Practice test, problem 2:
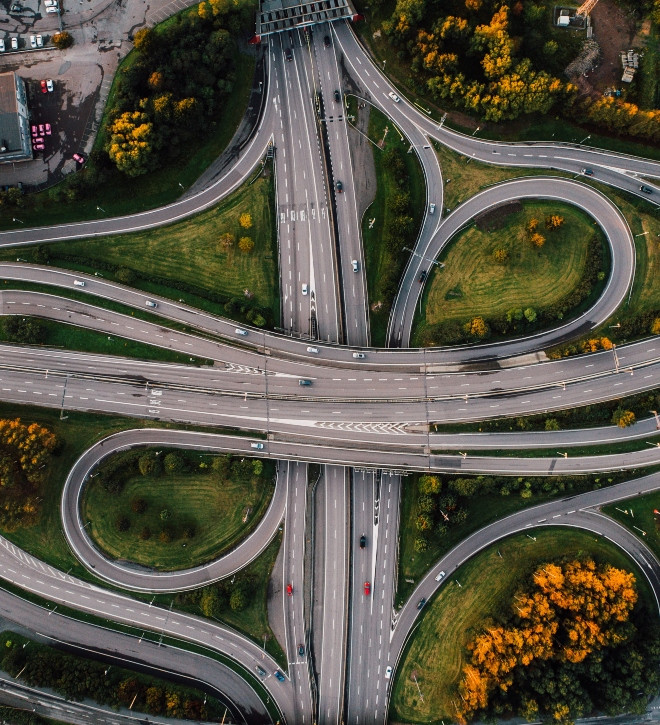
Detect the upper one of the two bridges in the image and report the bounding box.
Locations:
[246,0,363,49]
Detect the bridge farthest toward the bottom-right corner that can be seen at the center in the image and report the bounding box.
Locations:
[258,331,433,474]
